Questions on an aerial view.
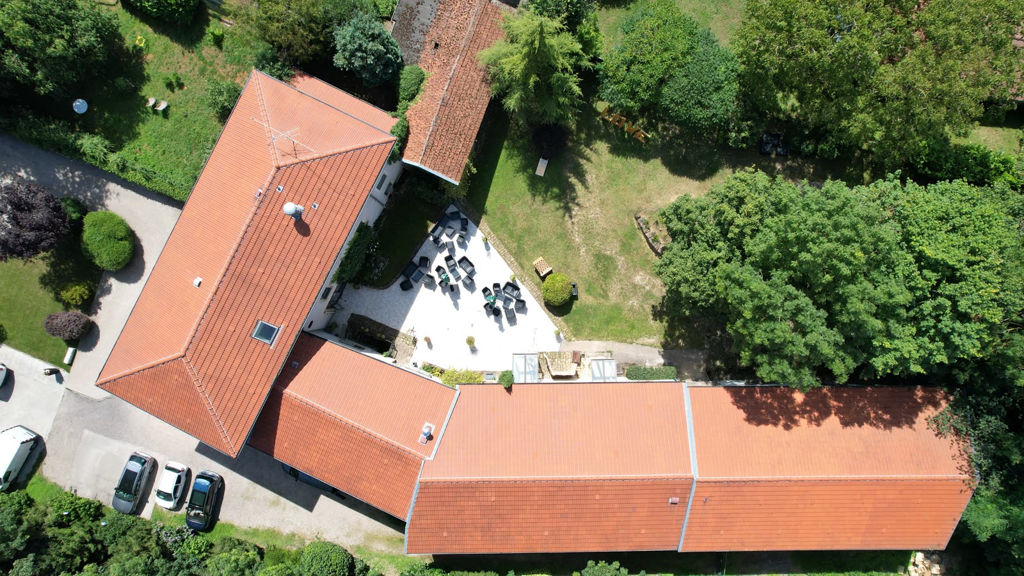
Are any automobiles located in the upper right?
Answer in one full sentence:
No, the scene shows no automobile in the upper right.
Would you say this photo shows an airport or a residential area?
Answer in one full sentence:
The area seen from above is a residential area.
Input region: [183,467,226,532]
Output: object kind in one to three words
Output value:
car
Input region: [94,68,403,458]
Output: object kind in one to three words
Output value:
house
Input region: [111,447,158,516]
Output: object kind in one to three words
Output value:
car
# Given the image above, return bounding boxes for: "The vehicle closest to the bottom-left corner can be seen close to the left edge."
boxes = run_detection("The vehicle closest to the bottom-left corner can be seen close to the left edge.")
[0,426,39,501]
